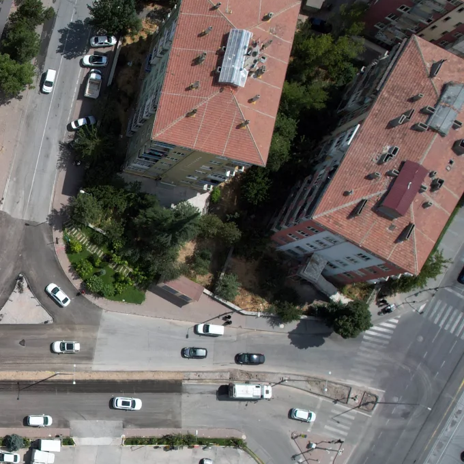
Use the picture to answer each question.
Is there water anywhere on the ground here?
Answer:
No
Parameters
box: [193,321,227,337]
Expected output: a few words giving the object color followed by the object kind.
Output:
white vehicle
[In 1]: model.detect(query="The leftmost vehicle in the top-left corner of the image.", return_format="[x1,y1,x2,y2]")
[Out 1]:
[40,65,58,96]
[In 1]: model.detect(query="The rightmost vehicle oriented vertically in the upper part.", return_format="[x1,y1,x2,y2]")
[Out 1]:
[86,66,102,102]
